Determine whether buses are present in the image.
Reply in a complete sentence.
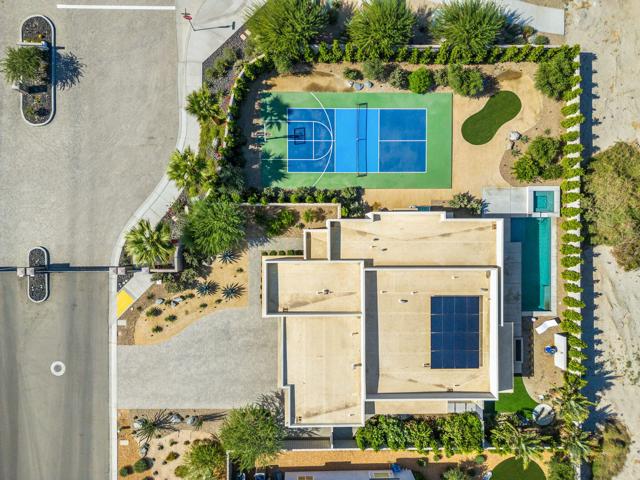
No, I can't see a single bus in this photo.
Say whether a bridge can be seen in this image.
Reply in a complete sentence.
No, I find no bridge anywhere in the image.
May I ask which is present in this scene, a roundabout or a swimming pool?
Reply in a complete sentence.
The image shows a swimming pool.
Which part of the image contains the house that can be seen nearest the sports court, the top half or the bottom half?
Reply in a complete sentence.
The bottom half of the photo is where the house that can be seen nearest the sports court is.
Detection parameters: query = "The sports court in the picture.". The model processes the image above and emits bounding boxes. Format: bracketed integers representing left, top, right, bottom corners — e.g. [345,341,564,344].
[258,92,452,188]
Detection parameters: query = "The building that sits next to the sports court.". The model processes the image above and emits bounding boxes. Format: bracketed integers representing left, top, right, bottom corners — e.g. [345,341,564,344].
[262,212,514,427]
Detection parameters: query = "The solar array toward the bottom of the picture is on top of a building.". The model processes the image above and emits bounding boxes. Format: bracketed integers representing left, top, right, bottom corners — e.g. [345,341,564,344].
[430,296,482,368]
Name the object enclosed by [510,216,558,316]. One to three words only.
swimming pool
